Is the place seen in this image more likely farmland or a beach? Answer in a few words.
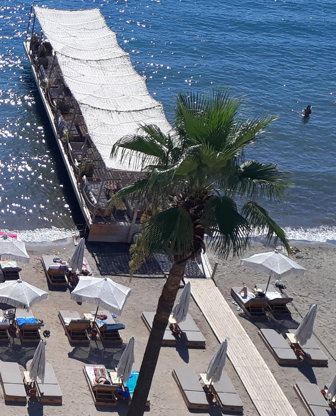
beach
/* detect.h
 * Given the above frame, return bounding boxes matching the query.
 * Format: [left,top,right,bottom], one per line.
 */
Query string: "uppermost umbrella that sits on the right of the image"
[237,241,313,290]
